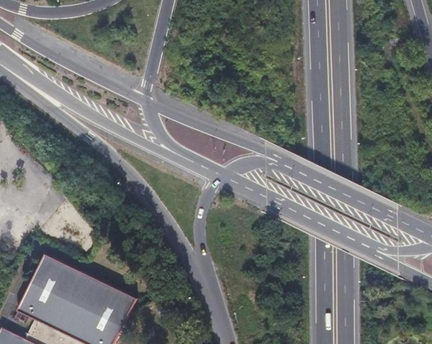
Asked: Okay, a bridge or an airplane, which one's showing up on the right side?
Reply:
bridge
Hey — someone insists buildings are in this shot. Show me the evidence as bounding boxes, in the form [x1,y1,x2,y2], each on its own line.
[0,326,36,344]
[18,254,138,344]
[26,320,84,344]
